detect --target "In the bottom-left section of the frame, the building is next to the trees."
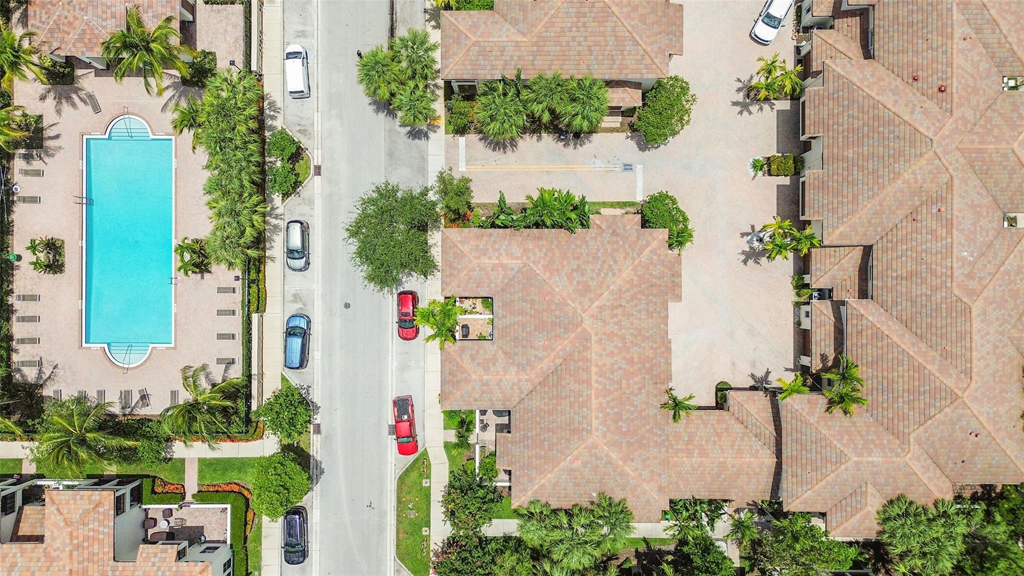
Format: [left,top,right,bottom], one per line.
[0,478,229,576]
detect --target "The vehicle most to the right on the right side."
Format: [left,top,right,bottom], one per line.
[754,0,791,46]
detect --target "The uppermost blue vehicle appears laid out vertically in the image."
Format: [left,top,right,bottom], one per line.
[283,313,311,369]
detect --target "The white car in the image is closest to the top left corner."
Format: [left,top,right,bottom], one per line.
[282,45,311,99]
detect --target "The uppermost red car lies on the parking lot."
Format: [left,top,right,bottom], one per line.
[396,290,420,339]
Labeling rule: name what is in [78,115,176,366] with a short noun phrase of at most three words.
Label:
swimming pool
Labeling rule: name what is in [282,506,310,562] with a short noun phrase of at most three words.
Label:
car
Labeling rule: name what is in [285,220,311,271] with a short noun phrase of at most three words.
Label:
car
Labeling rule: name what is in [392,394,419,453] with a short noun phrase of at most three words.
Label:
truck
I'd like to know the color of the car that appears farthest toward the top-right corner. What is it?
white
